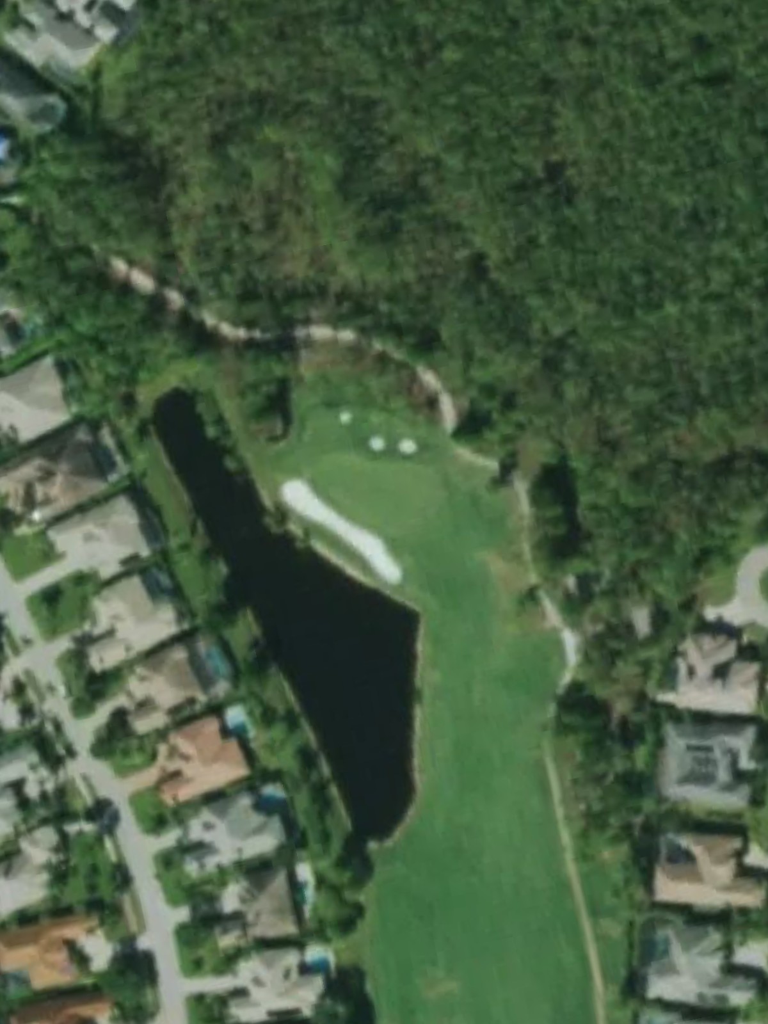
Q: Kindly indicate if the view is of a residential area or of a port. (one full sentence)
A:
This image shows a residential area.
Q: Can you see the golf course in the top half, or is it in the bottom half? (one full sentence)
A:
It is in the bottom half that the golf course appears.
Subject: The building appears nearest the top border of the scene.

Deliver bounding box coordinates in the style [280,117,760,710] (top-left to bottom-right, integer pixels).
[9,0,137,73]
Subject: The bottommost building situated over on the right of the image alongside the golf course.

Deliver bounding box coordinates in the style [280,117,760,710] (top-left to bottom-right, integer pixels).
[648,928,758,1014]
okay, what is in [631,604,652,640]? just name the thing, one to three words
shed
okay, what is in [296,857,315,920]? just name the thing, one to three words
swimming pool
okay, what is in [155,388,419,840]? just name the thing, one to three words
pond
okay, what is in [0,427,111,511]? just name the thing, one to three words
house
